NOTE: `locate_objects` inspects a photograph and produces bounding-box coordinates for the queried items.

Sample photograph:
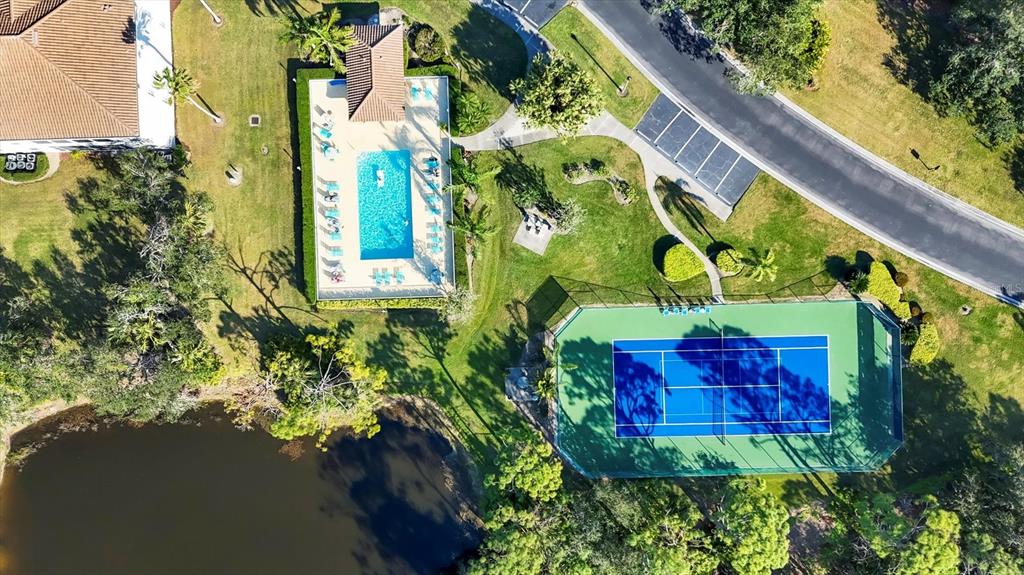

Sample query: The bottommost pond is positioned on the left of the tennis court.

[0,397,489,575]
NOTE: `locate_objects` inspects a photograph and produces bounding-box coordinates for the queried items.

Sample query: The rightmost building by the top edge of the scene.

[346,23,406,125]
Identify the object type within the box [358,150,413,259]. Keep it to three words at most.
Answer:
swimming pool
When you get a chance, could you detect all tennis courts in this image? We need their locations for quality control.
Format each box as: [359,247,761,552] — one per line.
[558,303,888,469]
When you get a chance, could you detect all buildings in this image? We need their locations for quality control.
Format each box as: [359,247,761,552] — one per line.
[0,0,173,151]
[346,23,406,125]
